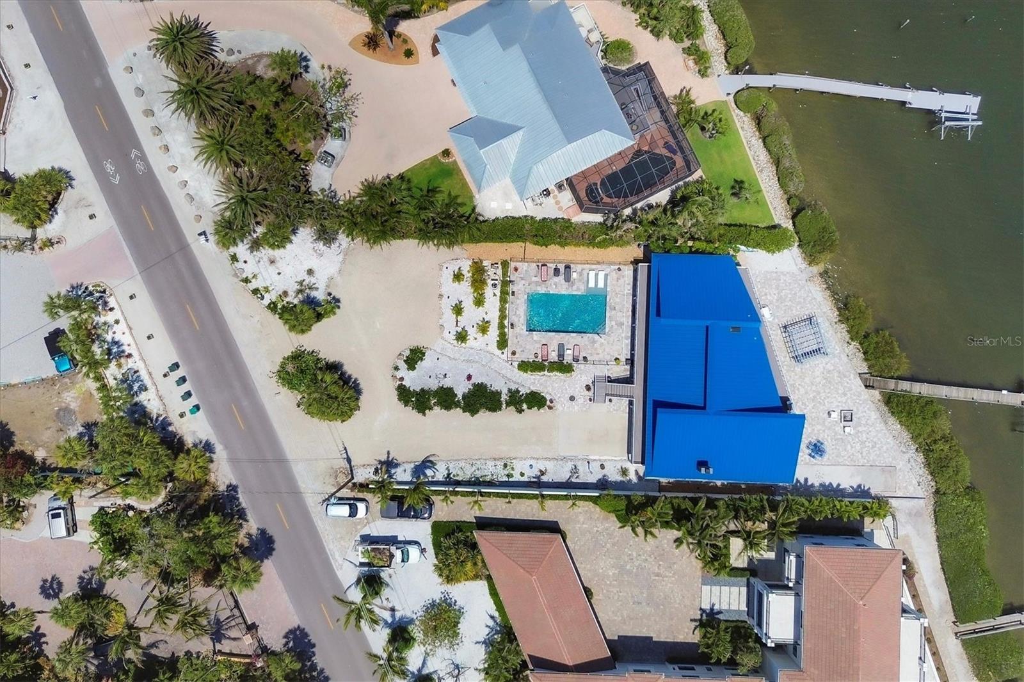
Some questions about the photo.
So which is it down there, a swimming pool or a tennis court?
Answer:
swimming pool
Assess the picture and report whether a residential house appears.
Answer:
Yes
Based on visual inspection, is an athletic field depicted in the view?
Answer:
No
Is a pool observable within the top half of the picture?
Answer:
Yes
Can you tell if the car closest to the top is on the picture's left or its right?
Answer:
left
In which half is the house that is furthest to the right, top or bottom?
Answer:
bottom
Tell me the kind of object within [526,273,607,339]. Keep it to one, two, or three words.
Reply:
swimming pool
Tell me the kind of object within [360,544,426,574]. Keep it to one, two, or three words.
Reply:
truck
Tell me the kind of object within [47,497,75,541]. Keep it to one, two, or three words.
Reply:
car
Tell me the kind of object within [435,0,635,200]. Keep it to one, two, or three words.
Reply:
house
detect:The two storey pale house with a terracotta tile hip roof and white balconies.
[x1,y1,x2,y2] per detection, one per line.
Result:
[750,537,930,682]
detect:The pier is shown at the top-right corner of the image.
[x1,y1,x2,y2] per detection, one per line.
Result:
[716,52,981,114]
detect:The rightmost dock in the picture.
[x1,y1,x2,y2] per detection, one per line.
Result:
[952,609,1024,641]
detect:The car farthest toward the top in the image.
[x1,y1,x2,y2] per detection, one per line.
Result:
[35,330,75,374]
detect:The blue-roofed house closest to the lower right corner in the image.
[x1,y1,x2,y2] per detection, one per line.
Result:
[629,253,805,484]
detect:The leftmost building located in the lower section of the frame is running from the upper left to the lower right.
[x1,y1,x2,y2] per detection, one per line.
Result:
[473,529,618,682]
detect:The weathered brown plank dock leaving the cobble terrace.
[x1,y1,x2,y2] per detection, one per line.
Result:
[858,373,1024,409]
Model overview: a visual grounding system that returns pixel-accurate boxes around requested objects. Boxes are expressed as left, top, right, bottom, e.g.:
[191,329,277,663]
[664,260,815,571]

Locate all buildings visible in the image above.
[629,253,805,484]
[473,529,618,682]
[435,0,635,200]
[750,537,930,682]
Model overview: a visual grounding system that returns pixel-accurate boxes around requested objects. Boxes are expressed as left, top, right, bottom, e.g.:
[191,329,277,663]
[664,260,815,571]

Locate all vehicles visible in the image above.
[360,544,426,574]
[380,499,434,522]
[47,497,75,541]
[35,330,75,374]
[326,500,370,521]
